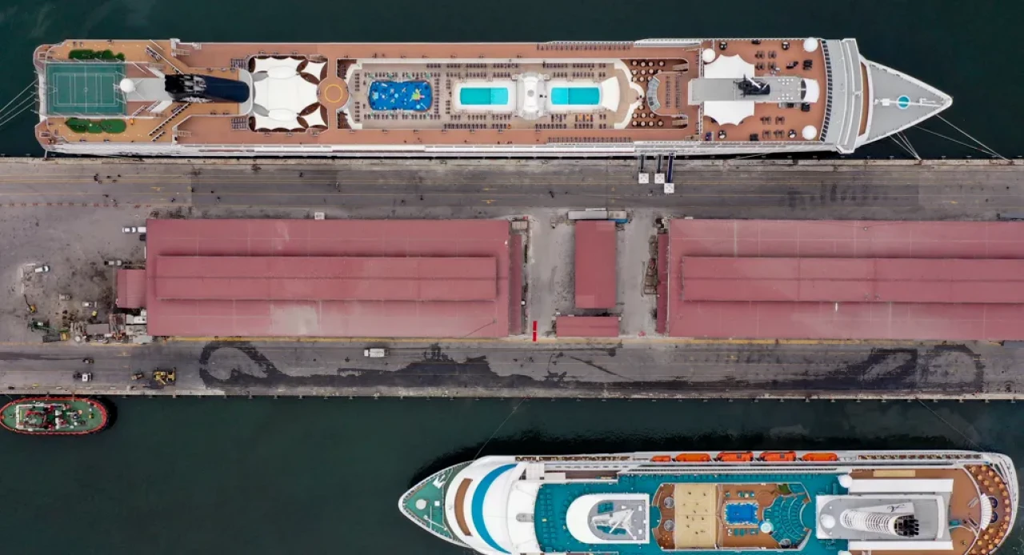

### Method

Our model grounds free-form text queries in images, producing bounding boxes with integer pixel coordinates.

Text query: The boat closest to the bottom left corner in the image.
[0,398,108,435]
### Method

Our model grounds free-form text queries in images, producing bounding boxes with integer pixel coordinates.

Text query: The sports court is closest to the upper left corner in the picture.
[33,56,126,115]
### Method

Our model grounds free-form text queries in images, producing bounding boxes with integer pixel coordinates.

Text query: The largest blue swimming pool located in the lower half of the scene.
[724,502,759,525]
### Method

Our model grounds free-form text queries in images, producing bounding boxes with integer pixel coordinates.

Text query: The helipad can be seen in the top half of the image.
[318,78,351,110]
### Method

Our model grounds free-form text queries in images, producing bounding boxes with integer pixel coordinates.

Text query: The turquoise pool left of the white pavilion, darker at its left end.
[453,80,516,112]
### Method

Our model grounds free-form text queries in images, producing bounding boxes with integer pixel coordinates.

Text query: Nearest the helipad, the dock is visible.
[0,155,1024,400]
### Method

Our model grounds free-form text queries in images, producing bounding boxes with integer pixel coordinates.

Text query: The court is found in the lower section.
[674,483,718,550]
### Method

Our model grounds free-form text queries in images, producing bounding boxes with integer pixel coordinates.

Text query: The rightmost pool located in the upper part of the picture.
[548,80,605,112]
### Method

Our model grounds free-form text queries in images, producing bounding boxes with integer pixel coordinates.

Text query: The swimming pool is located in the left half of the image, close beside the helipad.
[367,80,433,113]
